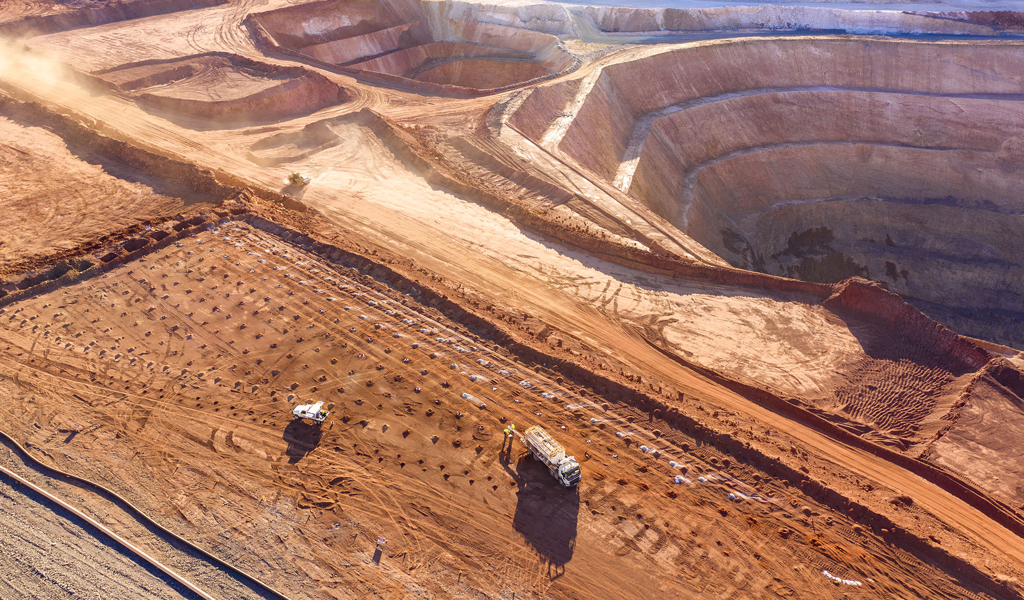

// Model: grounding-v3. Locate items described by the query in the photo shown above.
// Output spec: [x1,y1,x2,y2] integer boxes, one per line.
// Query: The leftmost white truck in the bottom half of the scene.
[287,398,329,425]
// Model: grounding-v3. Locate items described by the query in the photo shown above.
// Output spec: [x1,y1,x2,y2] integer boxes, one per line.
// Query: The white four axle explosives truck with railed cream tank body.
[513,418,583,491]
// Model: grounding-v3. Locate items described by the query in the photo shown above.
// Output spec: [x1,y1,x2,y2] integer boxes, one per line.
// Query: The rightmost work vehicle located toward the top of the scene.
[288,170,313,187]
